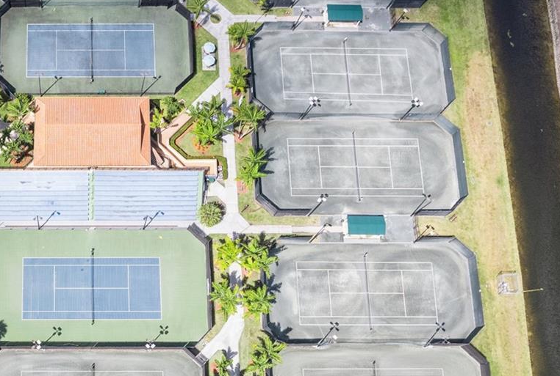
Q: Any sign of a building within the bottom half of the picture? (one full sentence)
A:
Yes, I can see a building within the bottom half of the picture.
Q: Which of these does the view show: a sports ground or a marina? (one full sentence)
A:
The area seen from above is a sports ground.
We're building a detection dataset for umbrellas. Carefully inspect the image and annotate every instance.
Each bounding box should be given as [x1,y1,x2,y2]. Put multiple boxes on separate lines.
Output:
[203,42,216,55]
[203,56,216,69]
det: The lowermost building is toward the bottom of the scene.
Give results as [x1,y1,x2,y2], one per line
[498,269,544,295]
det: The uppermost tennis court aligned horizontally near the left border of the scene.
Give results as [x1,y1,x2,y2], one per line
[0,0,193,86]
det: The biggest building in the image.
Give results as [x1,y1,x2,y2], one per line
[33,96,151,169]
